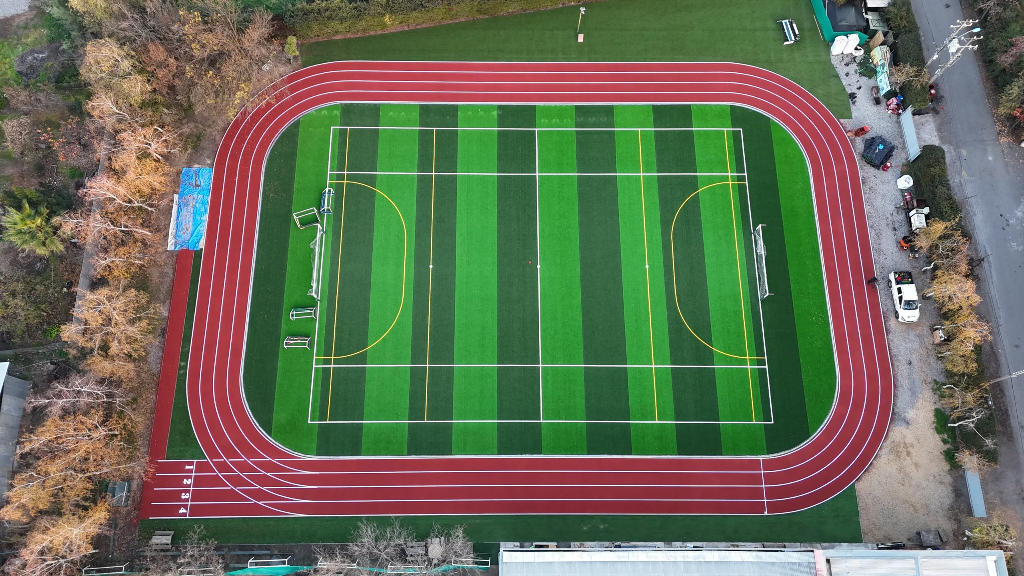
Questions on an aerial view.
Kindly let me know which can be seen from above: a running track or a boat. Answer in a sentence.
The image shows a running track.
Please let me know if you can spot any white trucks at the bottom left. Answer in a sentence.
No, the scene shows no white truck at the bottom left.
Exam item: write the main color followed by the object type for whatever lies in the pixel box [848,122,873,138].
red vehicle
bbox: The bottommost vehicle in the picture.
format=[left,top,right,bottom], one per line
[891,271,925,323]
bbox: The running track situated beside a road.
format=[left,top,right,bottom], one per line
[185,60,894,516]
